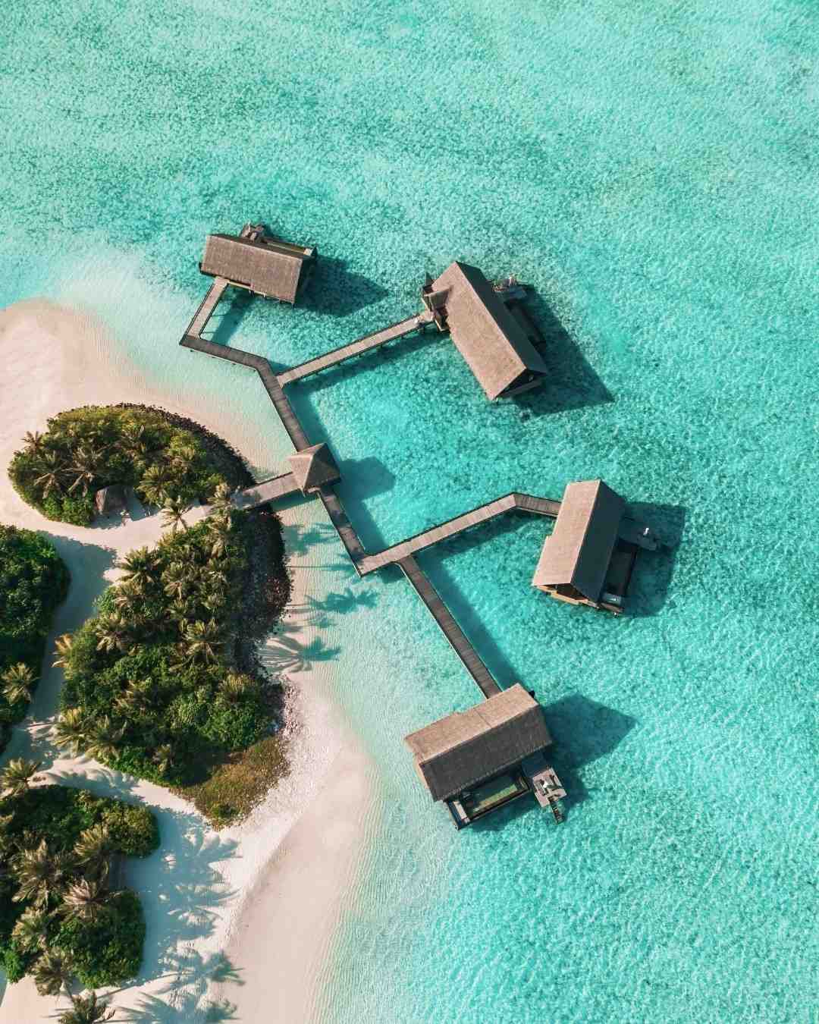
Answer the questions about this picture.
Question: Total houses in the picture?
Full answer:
The count of houses comes to 4.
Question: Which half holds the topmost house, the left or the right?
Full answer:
The topmost house appears in the left half of the scene.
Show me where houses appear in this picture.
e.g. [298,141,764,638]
[405,685,568,832]
[532,479,667,616]
[417,261,559,407]
[203,220,321,313]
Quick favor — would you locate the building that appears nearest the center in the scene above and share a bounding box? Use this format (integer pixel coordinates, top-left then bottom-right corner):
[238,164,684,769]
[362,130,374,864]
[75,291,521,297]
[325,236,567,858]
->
[289,443,340,502]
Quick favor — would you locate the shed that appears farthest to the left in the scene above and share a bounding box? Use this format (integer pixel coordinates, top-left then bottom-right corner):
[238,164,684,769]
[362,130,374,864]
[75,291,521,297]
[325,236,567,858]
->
[96,485,124,518]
